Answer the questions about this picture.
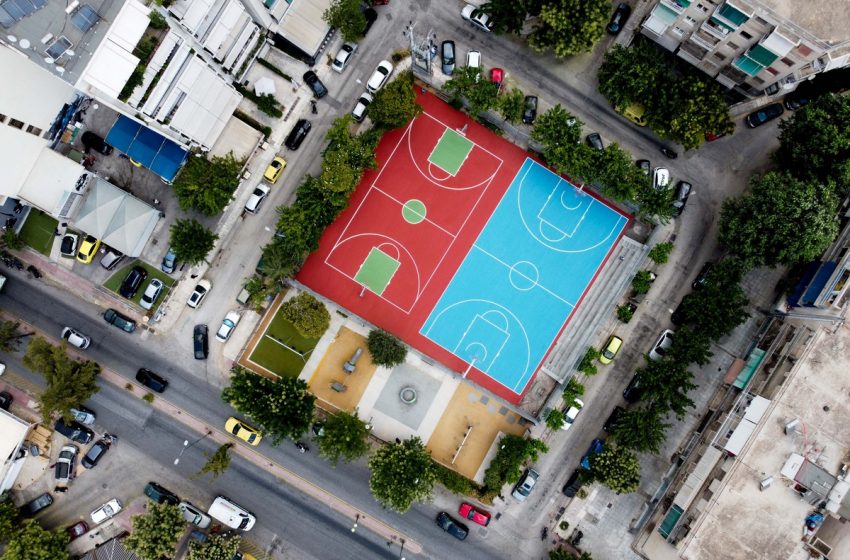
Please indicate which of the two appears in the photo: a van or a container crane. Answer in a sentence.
Visible in the photo is a van.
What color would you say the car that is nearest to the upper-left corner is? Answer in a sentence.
The color of the car that is nearest to the upper-left corner is black.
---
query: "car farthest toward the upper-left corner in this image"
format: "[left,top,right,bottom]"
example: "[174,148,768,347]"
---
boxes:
[77,129,113,155]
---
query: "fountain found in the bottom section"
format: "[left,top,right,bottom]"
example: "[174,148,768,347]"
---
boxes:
[399,386,417,404]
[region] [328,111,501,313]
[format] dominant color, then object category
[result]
red basketball court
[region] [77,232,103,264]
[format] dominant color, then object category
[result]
yellow car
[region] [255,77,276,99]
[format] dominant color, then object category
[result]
white umbrella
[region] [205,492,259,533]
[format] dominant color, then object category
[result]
white van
